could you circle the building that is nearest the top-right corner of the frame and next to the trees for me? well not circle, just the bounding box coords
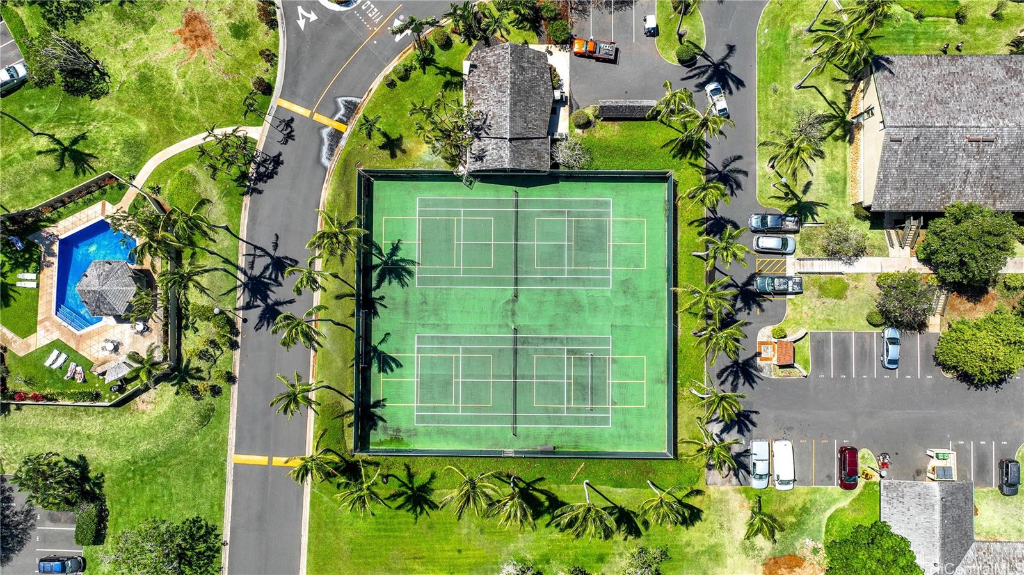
[849,55,1024,249]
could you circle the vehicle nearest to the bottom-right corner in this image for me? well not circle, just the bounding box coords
[997,456,1022,496]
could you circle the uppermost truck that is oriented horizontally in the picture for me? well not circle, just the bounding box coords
[573,38,617,61]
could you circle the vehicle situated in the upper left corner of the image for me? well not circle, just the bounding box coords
[0,65,31,91]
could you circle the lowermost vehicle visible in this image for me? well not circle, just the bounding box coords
[36,554,88,575]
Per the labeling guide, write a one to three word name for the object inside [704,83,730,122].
car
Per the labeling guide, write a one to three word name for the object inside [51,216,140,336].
swimming pool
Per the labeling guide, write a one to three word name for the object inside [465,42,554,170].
house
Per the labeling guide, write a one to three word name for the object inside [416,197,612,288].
tennis court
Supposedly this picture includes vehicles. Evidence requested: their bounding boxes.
[573,38,617,61]
[704,83,730,122]
[754,276,803,296]
[753,235,795,254]
[0,65,31,91]
[879,329,900,369]
[36,554,88,575]
[773,441,796,490]
[750,213,802,234]
[838,446,861,489]
[997,456,1022,496]
[749,441,771,488]
[643,14,657,39]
